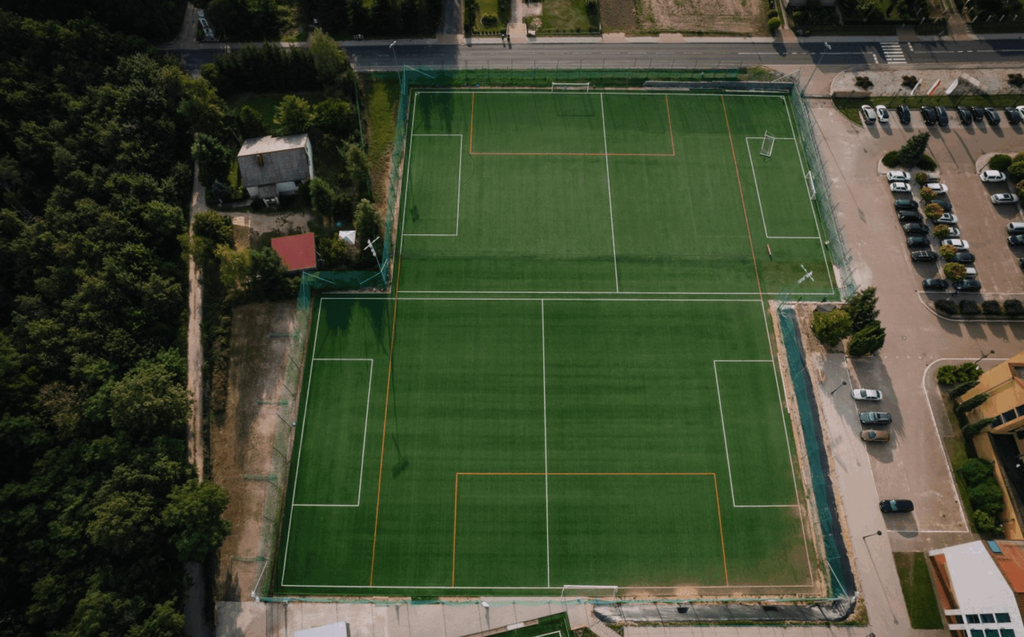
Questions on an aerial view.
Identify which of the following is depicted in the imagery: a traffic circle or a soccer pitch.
soccer pitch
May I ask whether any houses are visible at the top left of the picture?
Yes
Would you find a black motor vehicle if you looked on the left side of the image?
No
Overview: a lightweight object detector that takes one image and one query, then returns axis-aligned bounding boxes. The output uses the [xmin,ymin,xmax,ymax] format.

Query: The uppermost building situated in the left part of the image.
[242,134,312,212]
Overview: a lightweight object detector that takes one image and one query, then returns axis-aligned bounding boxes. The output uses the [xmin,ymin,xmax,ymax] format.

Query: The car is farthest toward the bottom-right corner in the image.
[879,498,913,513]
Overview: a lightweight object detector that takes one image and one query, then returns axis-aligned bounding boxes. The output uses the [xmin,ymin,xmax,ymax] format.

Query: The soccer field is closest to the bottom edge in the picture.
[476,612,573,637]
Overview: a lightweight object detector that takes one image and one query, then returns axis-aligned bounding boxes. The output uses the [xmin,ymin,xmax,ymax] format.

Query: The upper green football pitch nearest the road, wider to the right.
[389,88,840,301]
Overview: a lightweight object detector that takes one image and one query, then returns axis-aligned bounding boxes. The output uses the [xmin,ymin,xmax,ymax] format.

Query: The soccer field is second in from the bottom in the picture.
[270,293,822,596]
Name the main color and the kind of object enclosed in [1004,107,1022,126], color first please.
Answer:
black car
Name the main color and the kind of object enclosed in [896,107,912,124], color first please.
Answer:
black car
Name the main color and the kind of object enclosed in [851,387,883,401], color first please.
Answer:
white car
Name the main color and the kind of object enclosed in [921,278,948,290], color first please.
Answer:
black vehicle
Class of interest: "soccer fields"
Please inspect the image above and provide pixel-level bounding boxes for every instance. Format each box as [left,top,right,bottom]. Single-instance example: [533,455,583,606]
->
[270,293,822,596]
[476,612,573,637]
[389,88,840,301]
